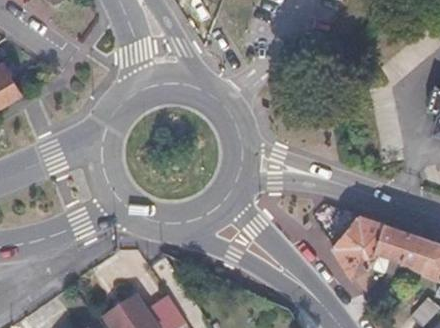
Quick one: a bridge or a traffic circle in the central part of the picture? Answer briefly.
traffic circle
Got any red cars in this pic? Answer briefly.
Yes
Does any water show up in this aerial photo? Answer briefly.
No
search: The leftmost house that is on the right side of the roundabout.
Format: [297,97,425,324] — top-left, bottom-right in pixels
[334,216,384,288]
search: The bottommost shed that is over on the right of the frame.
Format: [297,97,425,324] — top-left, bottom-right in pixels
[412,298,440,328]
